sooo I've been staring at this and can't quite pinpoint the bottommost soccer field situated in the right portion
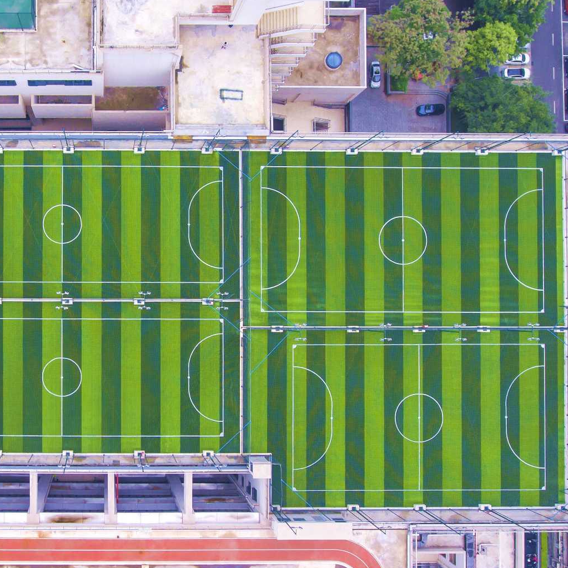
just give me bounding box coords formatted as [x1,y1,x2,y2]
[245,331,565,508]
